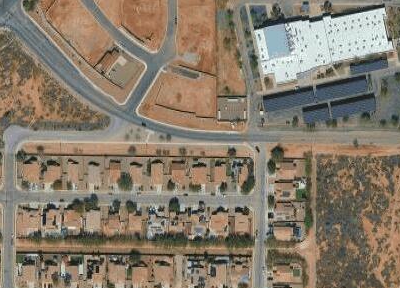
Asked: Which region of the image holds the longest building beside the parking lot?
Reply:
top right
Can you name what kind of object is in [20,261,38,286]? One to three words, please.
house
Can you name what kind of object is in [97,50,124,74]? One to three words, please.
building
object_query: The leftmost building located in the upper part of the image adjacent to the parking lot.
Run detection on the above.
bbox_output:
[218,97,248,121]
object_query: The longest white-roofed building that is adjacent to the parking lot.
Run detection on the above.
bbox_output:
[254,8,395,84]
